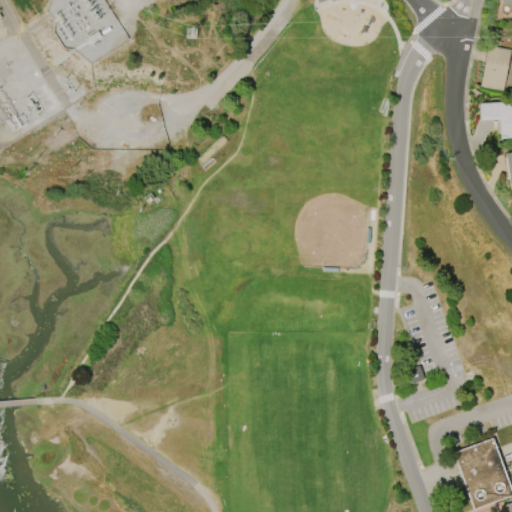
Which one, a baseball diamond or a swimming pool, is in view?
baseball diamond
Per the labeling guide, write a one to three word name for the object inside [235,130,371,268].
baseball field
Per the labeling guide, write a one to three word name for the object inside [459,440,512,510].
building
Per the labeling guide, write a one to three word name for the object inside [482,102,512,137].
house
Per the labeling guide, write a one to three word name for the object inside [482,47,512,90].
house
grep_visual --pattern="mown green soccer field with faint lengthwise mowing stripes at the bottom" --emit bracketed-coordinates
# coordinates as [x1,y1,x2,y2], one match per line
[228,332,391,512]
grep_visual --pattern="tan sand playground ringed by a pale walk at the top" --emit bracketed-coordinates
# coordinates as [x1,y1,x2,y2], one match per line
[320,0,386,46]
